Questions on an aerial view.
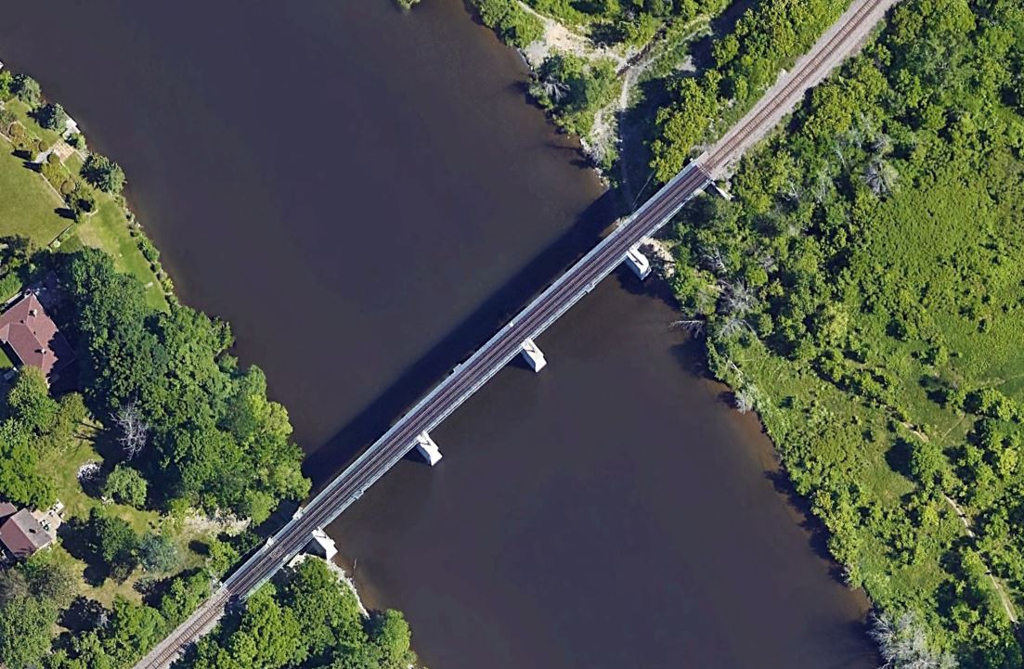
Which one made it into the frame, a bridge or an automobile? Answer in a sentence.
This aerial view contains a bridge.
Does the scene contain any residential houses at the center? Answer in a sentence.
No, I see no residential house at the center.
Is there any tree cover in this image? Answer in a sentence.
Yes, tree cover can be seen from above here.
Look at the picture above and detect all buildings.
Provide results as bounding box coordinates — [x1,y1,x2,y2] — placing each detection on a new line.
[0,294,77,382]
[0,508,51,565]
